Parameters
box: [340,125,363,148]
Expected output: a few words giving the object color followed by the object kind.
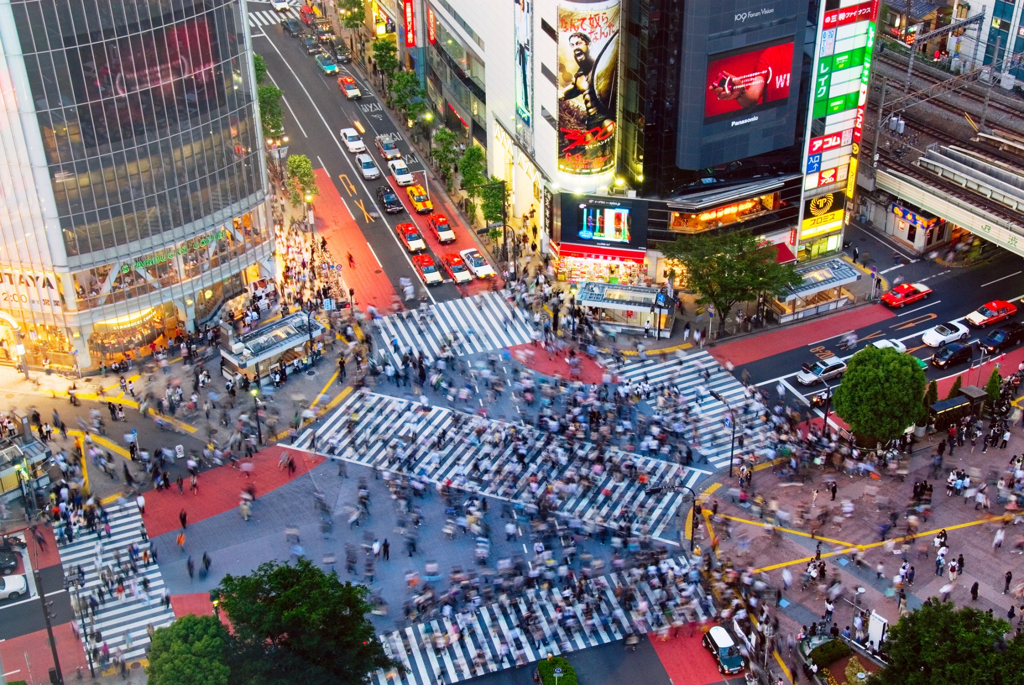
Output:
white car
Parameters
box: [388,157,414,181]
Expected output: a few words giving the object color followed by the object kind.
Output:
white car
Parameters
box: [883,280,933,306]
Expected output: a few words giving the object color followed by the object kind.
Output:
red car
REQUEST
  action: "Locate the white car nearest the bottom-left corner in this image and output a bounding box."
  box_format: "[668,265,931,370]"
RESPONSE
[0,568,37,595]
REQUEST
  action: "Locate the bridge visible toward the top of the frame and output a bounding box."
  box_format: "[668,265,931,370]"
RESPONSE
[871,40,1024,229]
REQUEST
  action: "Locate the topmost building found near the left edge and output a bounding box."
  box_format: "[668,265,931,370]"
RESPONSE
[0,0,276,373]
